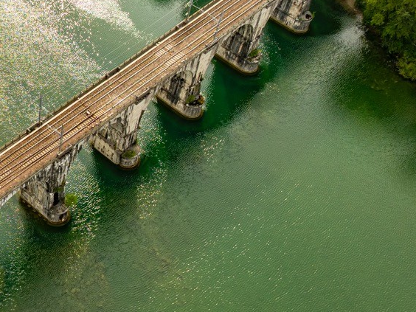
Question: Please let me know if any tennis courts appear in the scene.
No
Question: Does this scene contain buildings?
No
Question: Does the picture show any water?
Yes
